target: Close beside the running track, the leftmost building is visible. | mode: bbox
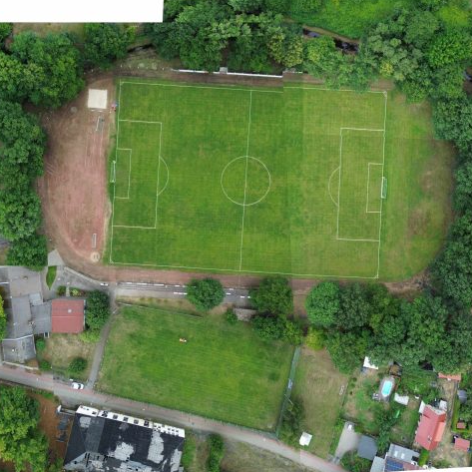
[0,266,85,365]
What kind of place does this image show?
sports ground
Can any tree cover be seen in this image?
Yes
